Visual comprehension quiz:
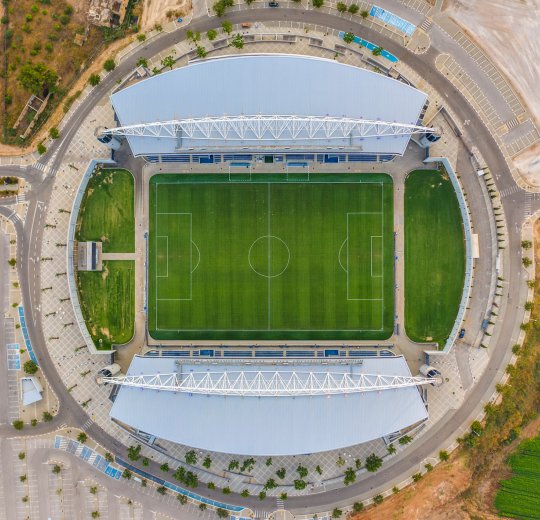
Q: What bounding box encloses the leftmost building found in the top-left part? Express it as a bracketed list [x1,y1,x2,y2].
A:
[13,93,49,137]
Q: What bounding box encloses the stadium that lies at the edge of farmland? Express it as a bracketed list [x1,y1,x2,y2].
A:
[66,54,472,456]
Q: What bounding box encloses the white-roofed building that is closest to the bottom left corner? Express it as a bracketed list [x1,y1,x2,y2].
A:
[22,378,43,405]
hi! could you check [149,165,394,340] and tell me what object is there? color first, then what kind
green soccer field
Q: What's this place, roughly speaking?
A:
sports ground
